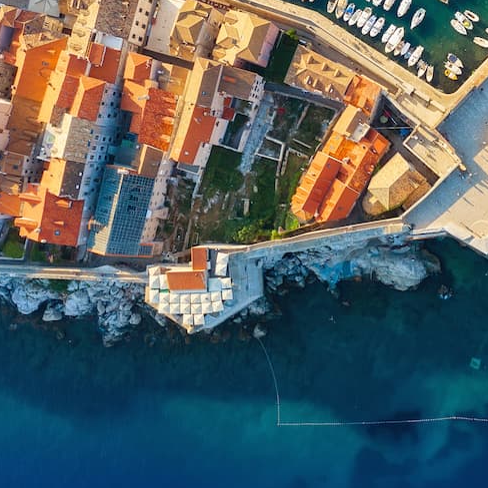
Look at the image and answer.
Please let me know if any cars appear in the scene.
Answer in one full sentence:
No, there isn't any car down there.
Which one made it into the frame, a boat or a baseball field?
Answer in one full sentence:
There is a boat in the scene.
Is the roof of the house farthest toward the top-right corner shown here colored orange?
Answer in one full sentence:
Yes, the roof of the house farthest toward the top-right corner appears orange.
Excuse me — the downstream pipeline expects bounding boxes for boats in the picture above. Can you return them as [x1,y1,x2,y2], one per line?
[444,68,457,77]
[385,23,396,42]
[444,61,461,72]
[364,14,376,33]
[395,39,404,55]
[454,9,472,28]
[372,16,385,36]
[402,41,411,55]
[427,63,433,82]
[465,9,479,20]
[386,24,404,52]
[336,0,347,17]
[447,51,462,66]
[398,0,412,16]
[405,48,413,60]
[410,43,424,66]
[413,6,426,28]
[328,0,337,13]
[358,6,372,27]
[345,2,354,20]
[450,19,468,33]
[472,34,488,46]
[419,58,427,77]
[350,8,361,24]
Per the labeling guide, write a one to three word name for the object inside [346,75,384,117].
house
